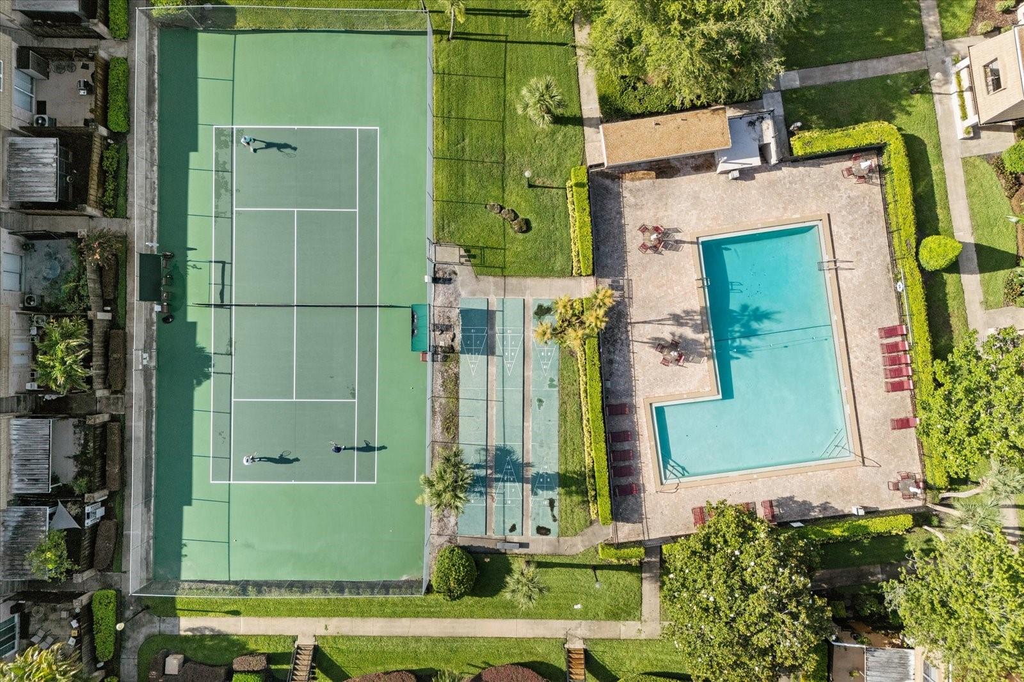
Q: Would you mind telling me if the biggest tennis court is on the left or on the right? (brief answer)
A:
left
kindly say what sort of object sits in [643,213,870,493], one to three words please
swimming pool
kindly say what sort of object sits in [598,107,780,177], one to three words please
building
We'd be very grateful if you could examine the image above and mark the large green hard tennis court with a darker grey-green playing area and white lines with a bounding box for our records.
[153,29,433,581]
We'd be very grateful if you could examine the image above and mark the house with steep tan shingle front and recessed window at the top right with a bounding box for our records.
[959,21,1024,131]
